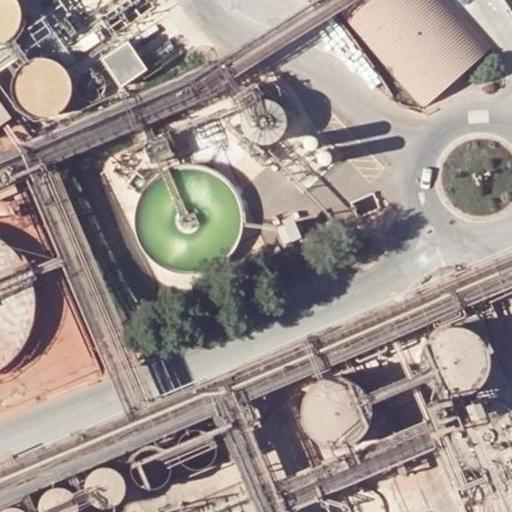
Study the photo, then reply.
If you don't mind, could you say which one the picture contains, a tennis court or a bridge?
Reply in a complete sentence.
There is a bridge in the scene.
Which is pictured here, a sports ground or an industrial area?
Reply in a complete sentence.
It's an industrial area.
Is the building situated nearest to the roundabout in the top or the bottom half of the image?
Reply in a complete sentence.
The building situated nearest to the roundabout sits in the top half of the picture.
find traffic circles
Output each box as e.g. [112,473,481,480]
[436,133,512,220]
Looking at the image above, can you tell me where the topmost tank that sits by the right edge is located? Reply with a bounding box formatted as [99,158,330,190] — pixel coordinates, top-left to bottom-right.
[421,328,496,400]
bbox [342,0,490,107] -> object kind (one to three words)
building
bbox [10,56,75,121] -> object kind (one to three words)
storage tank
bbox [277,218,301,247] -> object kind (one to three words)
shed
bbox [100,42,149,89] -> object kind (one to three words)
building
